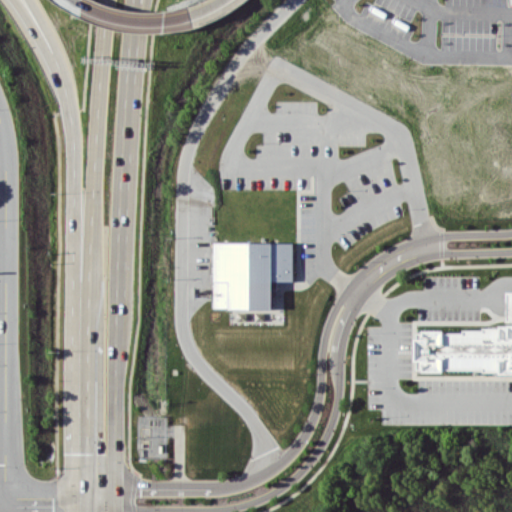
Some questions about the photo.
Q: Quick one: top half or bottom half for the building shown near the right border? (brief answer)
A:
bottom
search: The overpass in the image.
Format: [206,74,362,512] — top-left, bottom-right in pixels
[50,0,256,34]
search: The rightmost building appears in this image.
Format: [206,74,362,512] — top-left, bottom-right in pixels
[414,325,512,376]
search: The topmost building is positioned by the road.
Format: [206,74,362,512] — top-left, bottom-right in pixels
[213,244,294,310]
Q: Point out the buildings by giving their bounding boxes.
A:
[414,325,512,376]
[213,244,294,310]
